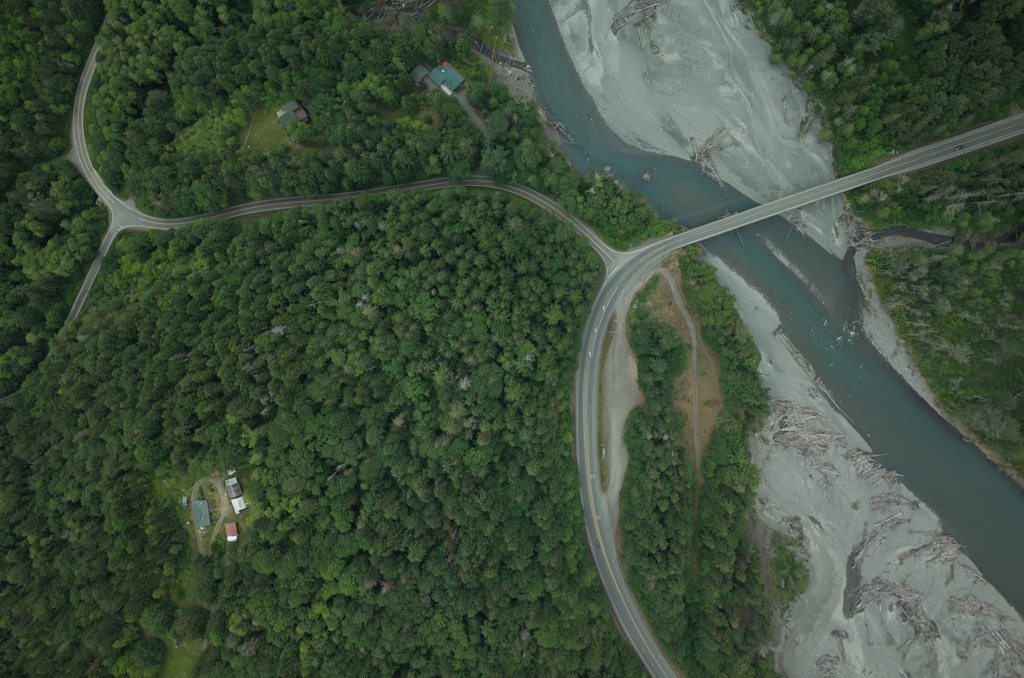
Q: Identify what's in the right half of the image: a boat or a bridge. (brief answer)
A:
bridge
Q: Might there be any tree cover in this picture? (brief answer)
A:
Yes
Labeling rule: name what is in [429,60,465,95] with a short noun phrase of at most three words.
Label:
house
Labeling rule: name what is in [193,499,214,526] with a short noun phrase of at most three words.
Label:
house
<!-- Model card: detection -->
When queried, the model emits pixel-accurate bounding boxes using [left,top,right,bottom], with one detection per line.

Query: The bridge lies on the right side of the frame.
[672,174,850,251]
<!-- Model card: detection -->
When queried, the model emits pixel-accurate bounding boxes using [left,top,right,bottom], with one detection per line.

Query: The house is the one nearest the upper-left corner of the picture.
[277,99,309,129]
